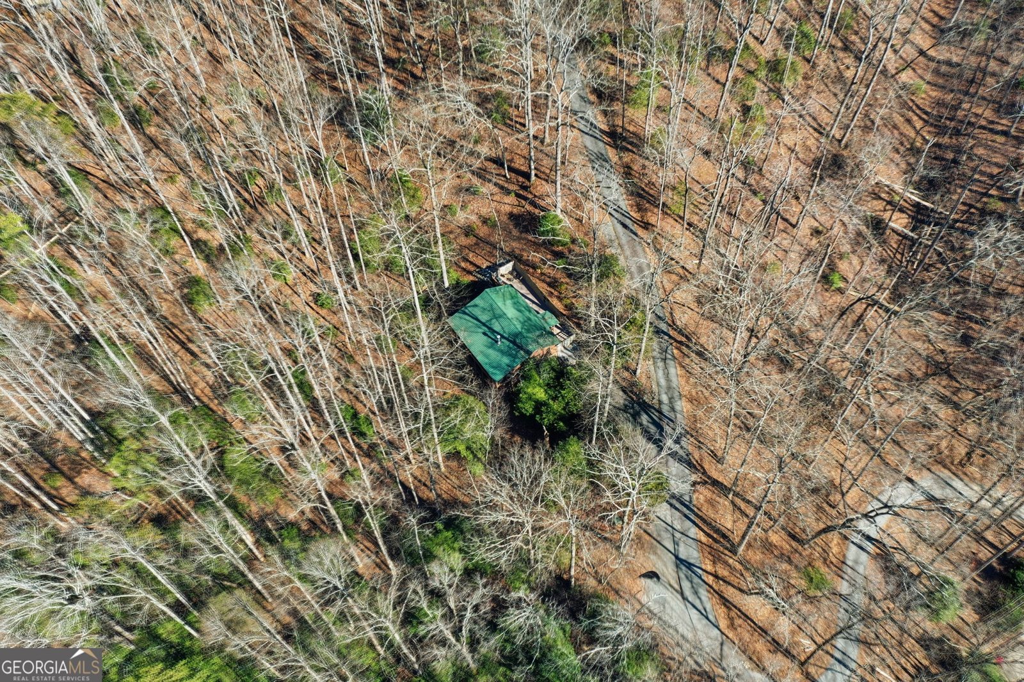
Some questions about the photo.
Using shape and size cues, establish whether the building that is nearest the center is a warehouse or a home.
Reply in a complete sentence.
In the photo, the building that is nearest the center shows up as a home.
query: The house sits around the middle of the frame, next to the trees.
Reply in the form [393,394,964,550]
[448,267,577,389]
